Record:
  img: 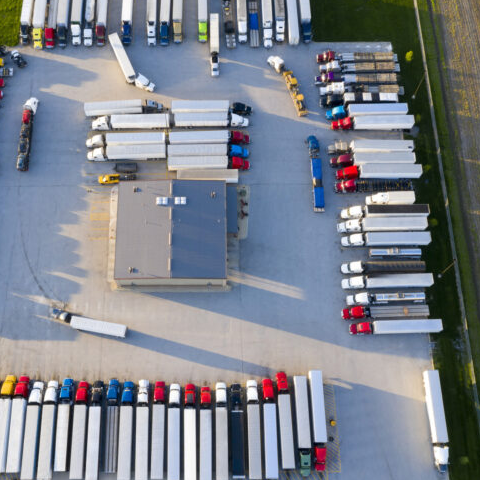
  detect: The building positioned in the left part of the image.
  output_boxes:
[114,177,238,282]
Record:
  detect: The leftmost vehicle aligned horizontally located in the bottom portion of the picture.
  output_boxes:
[51,308,127,339]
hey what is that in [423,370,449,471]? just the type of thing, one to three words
truck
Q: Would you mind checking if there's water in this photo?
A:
No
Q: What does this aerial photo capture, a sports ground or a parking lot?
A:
parking lot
